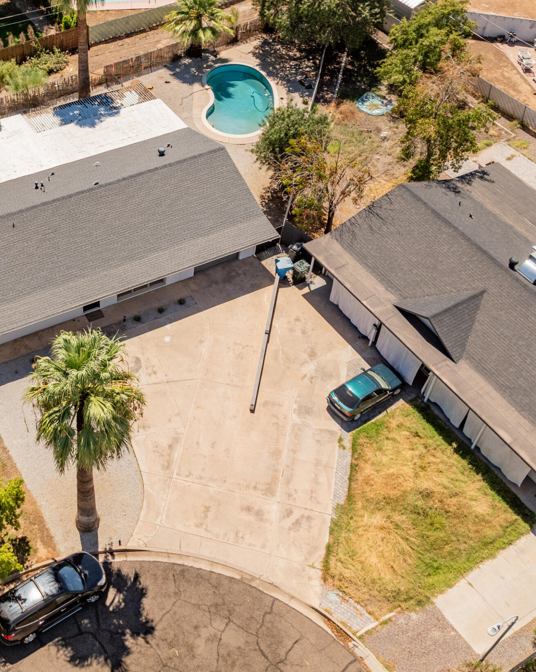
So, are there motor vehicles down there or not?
Yes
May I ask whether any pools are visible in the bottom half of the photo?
No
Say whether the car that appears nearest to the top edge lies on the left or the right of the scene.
right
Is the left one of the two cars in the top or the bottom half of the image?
bottom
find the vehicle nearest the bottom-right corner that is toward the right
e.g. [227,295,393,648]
[321,359,412,426]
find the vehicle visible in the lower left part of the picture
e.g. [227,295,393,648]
[0,547,115,656]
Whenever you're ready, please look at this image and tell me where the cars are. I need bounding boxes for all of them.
[321,359,412,426]
[0,547,115,656]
